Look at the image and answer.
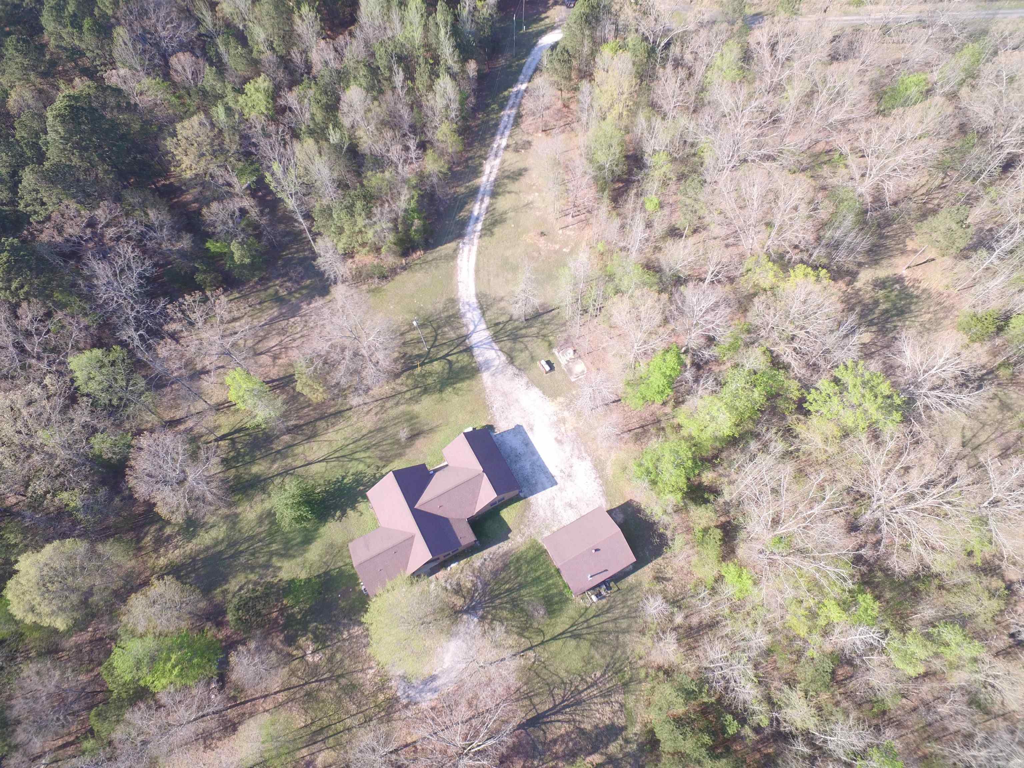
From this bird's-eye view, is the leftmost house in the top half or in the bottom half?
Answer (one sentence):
It is in the bottom half that the leftmost house appears.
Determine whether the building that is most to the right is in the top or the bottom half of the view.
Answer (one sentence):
It is in the bottom half that the building that is most to the right appears.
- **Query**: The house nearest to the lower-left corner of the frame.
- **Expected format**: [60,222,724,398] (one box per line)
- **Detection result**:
[349,425,521,597]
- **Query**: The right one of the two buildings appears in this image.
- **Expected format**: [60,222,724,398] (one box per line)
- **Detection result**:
[542,506,637,597]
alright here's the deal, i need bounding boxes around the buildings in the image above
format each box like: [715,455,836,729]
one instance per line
[542,506,637,597]
[349,425,521,597]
